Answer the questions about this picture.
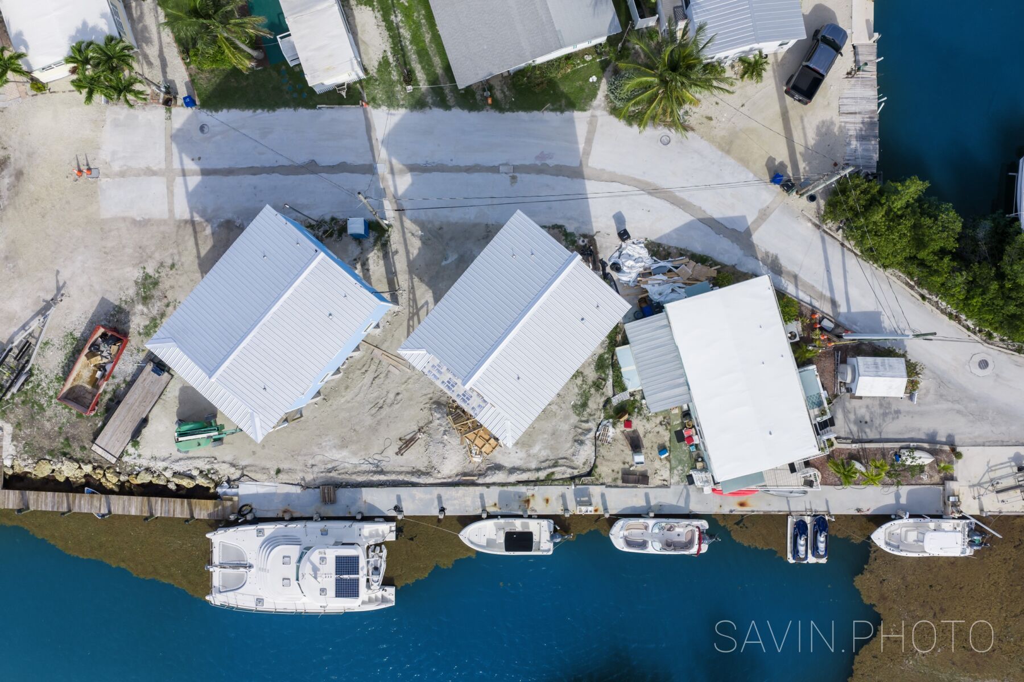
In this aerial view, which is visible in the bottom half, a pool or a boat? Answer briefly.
boat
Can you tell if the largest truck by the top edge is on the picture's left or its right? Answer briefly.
right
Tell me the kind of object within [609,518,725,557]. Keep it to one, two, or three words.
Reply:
boat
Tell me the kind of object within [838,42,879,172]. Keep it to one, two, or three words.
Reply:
pier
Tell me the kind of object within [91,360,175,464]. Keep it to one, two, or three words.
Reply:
trailer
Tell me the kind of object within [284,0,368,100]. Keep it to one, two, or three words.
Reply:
house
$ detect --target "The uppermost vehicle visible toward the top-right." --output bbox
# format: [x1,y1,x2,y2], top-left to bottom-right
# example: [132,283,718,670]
[780,18,850,112]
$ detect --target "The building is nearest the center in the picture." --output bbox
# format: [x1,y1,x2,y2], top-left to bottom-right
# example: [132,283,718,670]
[399,210,631,447]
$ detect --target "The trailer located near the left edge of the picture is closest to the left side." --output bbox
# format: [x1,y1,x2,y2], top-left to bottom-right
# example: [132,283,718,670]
[0,297,63,402]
